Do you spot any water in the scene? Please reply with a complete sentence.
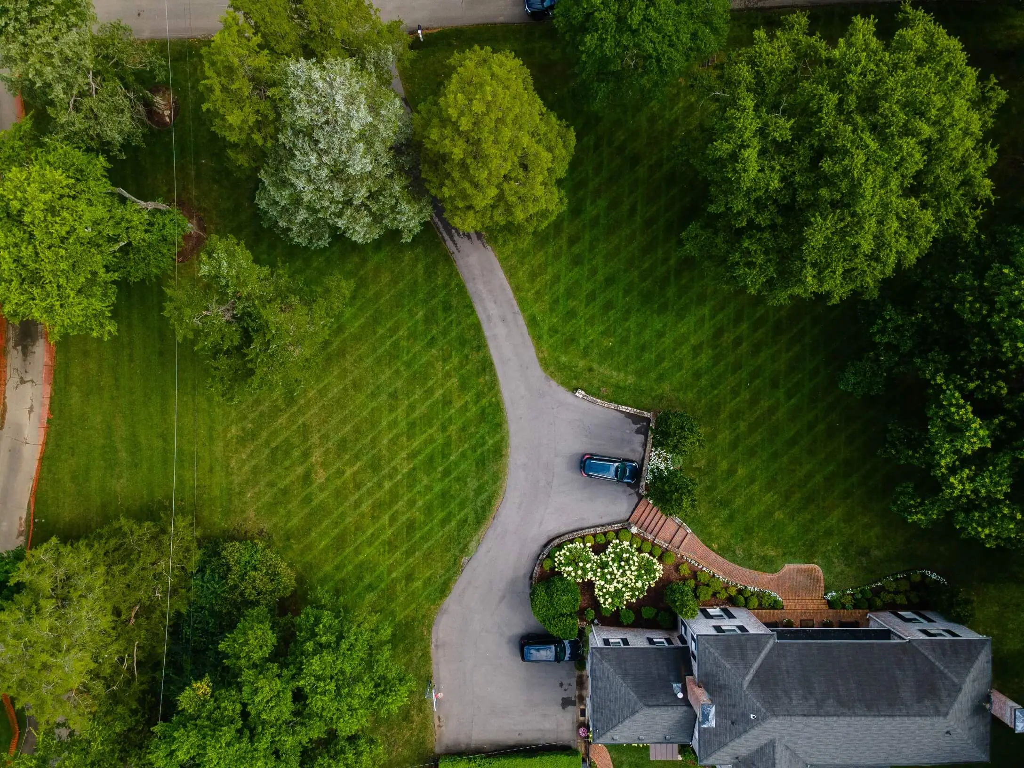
No, there is no water in the image.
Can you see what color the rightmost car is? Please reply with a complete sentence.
The rightmost car looks blue in the image.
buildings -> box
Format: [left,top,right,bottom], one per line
[586,609,1024,768]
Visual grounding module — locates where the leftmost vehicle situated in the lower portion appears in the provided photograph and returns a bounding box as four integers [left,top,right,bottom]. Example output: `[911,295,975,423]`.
[520,635,580,666]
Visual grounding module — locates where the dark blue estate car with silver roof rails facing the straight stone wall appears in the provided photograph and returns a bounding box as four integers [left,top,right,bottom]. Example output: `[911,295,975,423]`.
[580,454,640,482]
